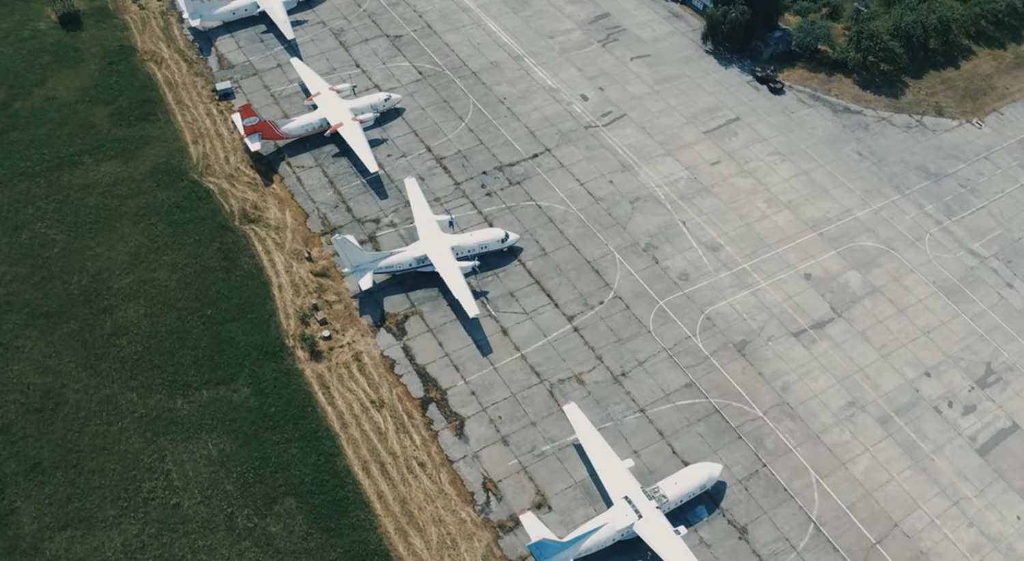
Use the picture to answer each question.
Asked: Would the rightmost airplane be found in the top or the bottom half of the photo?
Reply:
bottom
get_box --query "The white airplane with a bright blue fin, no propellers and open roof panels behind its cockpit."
[515,403,727,561]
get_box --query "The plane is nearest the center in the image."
[329,175,519,319]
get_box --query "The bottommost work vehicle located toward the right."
[757,67,787,92]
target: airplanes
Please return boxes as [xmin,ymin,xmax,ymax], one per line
[329,175,519,319]
[230,54,402,172]
[178,0,306,39]
[515,403,727,561]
